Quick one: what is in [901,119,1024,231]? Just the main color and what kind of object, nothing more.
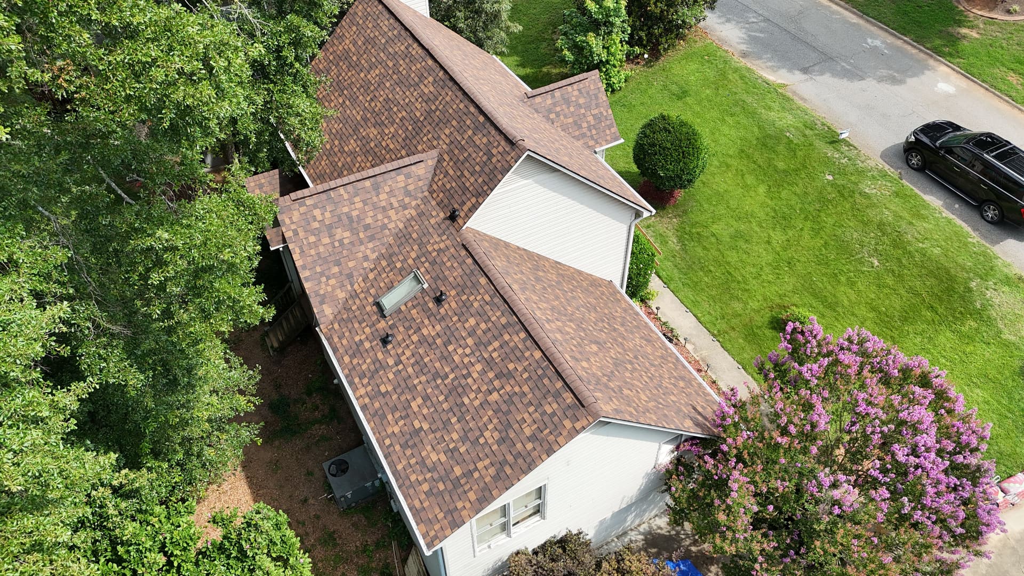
black car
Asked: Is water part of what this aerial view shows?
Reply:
No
